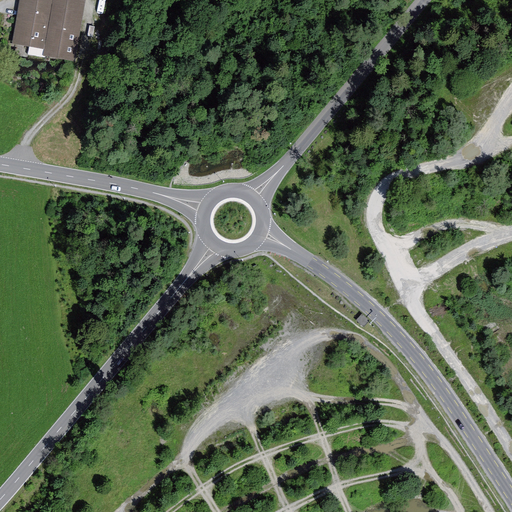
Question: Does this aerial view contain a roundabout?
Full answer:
Yes, this view includes a roundabout.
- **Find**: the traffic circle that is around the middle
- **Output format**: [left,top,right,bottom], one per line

[196,182,270,258]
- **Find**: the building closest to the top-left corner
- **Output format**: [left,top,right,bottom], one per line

[13,0,84,60]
